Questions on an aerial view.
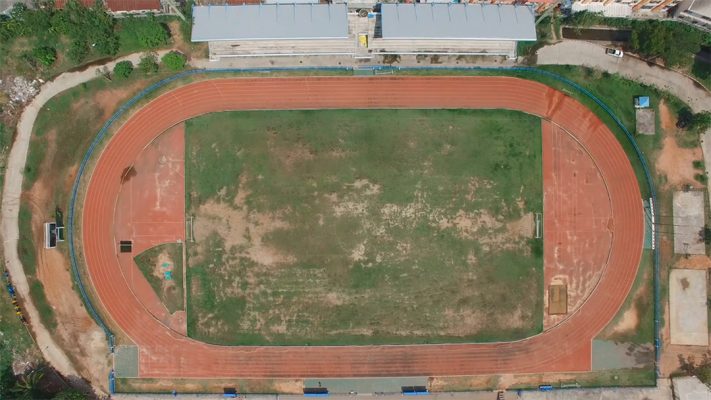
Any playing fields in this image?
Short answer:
Yes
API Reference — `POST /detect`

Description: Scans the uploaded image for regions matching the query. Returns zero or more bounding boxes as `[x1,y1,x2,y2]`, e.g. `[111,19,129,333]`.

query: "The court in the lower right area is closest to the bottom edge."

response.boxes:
[669,269,707,345]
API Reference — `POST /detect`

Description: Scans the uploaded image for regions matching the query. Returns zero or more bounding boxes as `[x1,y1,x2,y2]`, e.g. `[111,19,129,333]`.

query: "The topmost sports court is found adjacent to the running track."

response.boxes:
[674,192,703,253]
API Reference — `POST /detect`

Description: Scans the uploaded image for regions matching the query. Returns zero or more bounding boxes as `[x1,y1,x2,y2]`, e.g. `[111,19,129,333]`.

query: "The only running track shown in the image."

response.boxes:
[81,76,644,380]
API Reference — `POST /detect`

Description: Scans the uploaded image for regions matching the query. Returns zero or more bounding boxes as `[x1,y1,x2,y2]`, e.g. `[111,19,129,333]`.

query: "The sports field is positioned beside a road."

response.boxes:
[186,108,544,345]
